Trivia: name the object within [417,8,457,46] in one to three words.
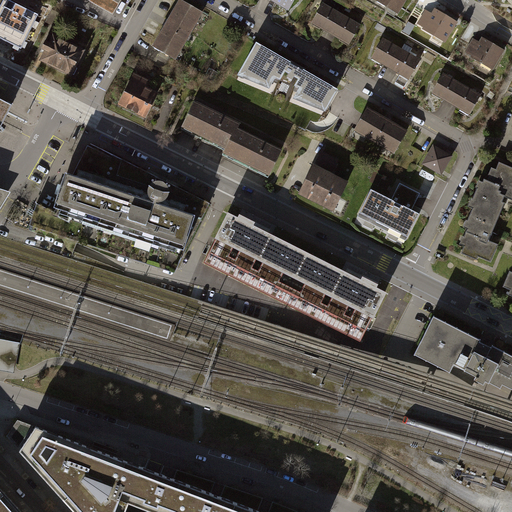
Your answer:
house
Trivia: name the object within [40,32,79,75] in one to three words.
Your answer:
house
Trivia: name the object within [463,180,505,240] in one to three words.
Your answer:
building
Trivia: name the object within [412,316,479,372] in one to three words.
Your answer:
building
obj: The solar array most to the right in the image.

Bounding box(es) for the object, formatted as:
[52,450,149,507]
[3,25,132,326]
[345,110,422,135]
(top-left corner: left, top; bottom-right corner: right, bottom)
[362,192,416,234]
